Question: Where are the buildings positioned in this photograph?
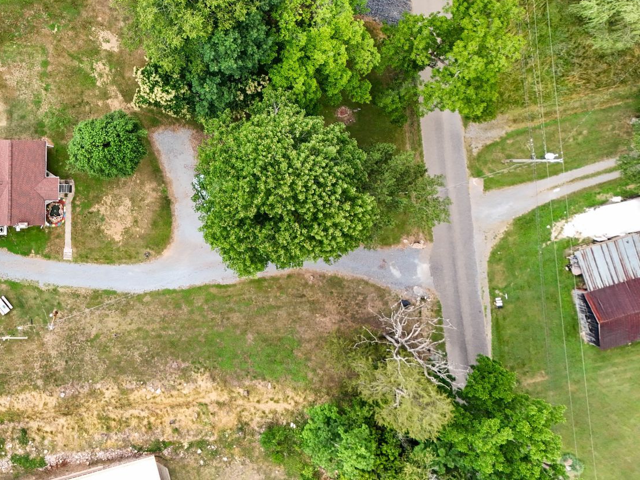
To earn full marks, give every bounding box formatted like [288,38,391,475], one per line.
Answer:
[560,231,640,350]
[0,140,60,230]
[52,449,170,480]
